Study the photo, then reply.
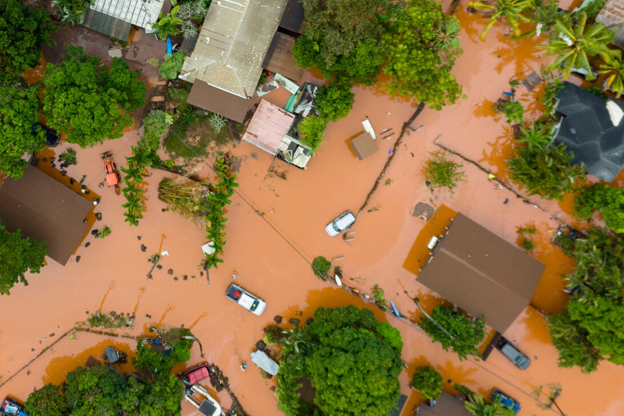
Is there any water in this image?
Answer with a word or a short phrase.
Yes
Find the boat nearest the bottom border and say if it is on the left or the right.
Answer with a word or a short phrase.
left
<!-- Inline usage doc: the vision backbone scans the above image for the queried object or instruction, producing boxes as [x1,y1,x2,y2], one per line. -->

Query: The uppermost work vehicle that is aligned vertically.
[98,145,123,196]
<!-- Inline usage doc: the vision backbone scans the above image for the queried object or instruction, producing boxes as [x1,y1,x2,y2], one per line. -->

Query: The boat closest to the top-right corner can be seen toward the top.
[363,118,376,139]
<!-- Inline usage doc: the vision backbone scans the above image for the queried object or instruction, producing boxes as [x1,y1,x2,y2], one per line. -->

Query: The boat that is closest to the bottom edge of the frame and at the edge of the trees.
[181,384,223,416]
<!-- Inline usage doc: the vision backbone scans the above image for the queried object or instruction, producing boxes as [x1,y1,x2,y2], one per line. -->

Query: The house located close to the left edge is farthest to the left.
[0,164,93,265]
